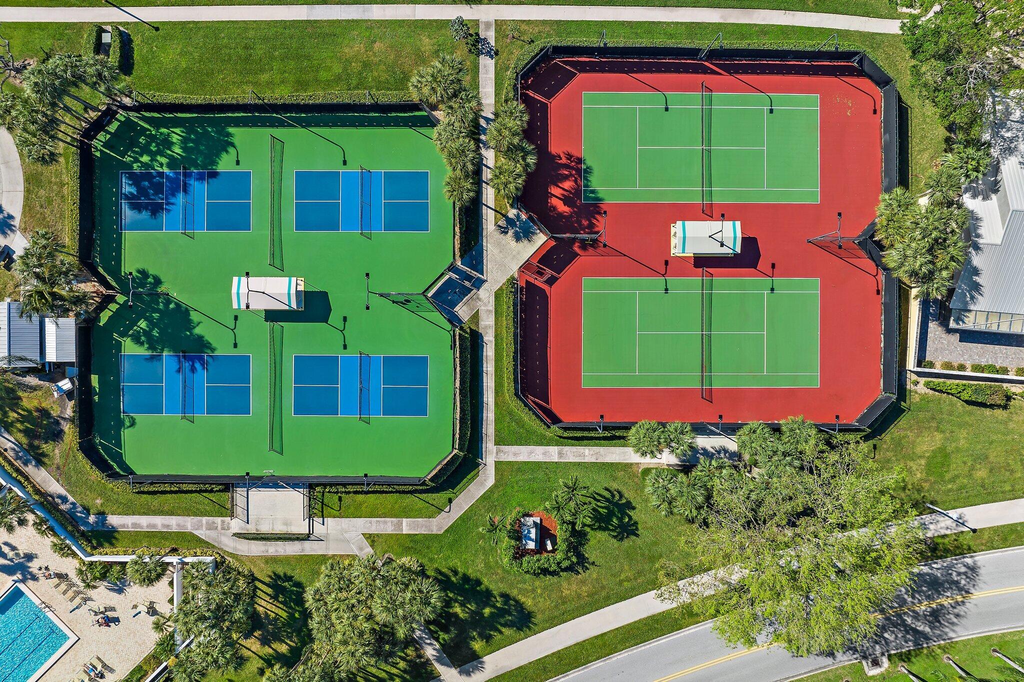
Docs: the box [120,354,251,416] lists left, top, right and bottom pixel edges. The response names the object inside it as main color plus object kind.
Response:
blue sports court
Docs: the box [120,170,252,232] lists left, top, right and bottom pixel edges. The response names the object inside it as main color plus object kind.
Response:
blue sports court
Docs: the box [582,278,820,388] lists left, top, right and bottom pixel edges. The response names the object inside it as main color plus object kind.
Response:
green tennis court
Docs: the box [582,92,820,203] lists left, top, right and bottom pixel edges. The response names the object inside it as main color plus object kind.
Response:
green tennis court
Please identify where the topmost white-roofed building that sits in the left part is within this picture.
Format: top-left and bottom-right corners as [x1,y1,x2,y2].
[232,277,304,310]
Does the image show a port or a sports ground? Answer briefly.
sports ground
